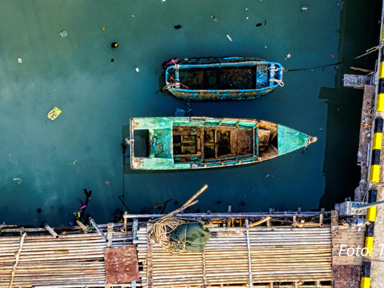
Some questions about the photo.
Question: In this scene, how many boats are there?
2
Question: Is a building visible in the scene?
No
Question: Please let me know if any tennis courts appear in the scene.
No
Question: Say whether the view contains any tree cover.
No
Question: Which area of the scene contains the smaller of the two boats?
top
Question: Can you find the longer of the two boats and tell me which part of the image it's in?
center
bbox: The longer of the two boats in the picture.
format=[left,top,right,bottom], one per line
[125,117,318,170]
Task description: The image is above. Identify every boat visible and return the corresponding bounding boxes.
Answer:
[162,54,284,103]
[125,117,318,170]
